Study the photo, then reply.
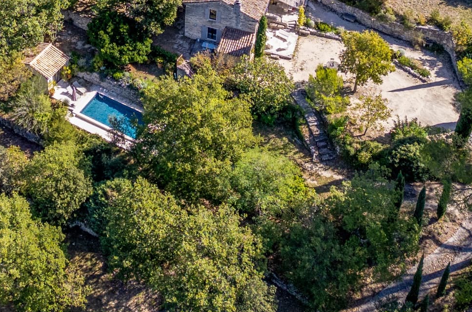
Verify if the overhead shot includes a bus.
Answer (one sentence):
No, I can see no bus in this picture.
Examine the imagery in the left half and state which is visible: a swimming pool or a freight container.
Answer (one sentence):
There is a swimming pool in the left half.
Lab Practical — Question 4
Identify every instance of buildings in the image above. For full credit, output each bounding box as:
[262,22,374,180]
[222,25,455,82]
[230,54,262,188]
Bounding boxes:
[17,44,71,97]
[182,0,316,71]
